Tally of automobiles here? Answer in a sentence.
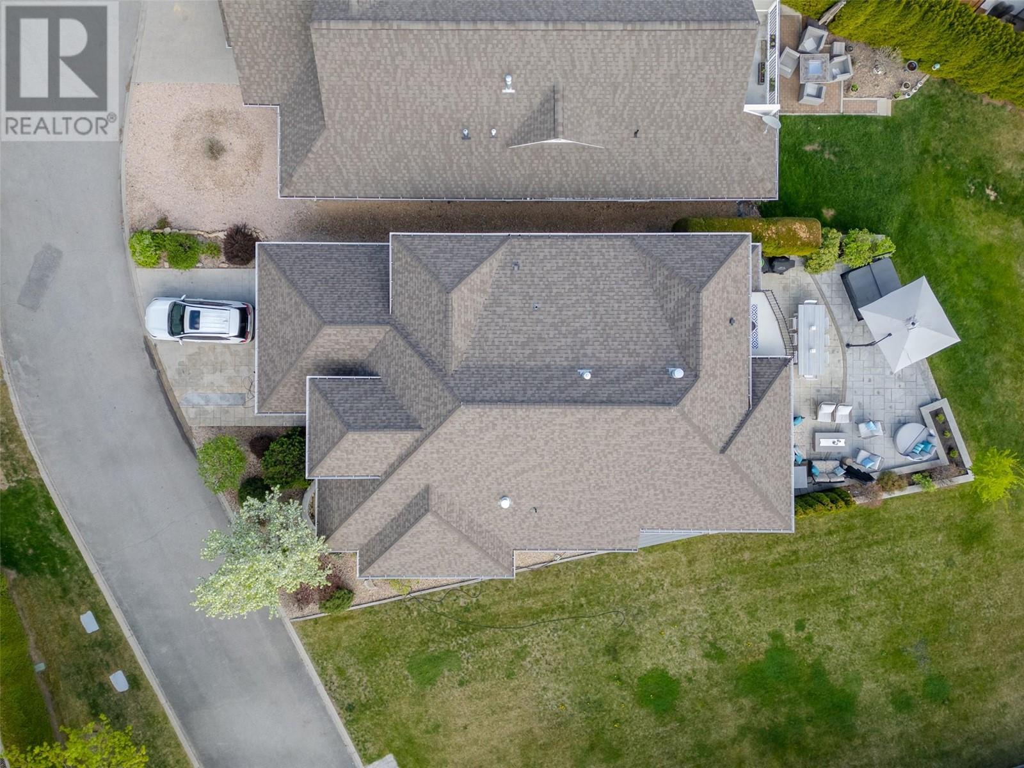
Just 1 automobile appears in this view.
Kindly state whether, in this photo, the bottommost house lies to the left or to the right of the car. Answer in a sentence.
From the viewer's perspective, the bottommost house falls to the right of the car.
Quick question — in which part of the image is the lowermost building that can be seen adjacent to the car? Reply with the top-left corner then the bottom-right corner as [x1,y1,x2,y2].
[256,234,798,578]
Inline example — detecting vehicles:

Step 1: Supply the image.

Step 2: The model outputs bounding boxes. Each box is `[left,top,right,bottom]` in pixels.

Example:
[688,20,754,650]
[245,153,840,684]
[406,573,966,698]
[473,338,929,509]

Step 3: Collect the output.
[144,285,256,342]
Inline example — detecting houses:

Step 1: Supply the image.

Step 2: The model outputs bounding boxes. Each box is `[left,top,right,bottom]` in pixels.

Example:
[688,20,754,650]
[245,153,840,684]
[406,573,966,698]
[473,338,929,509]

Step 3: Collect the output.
[218,0,789,199]
[256,234,798,578]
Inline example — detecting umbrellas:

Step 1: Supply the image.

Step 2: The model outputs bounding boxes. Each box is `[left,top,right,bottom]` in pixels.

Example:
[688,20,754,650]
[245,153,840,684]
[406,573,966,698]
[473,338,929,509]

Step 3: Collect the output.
[846,277,960,373]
